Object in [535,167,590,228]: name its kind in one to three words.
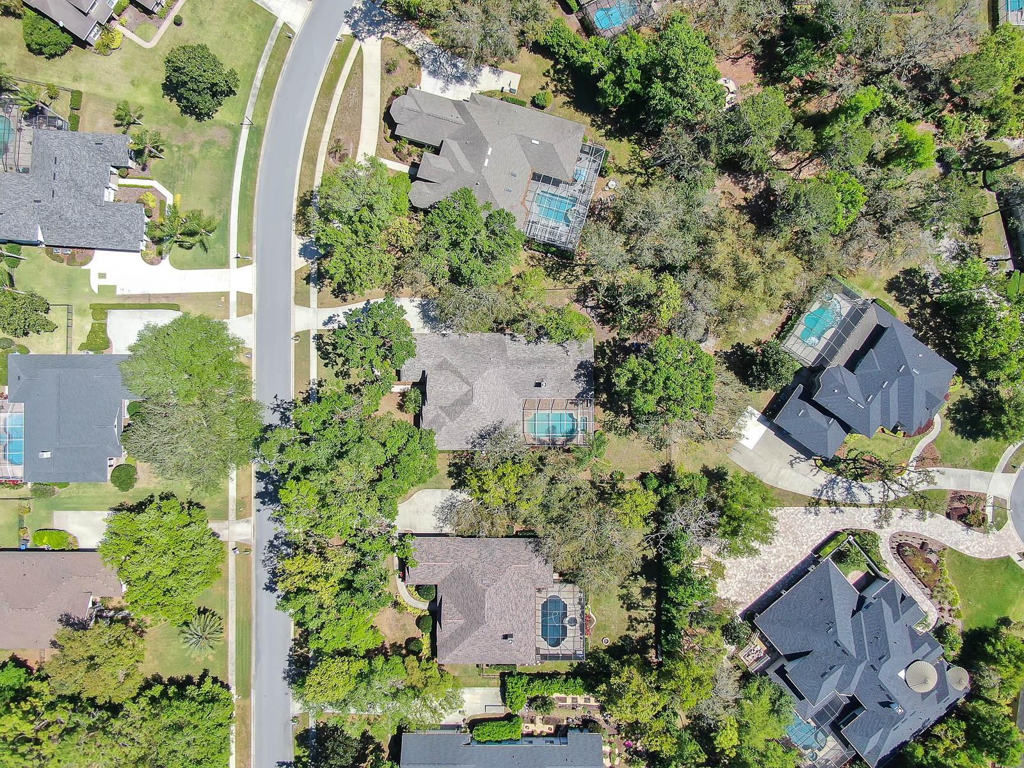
swimming pool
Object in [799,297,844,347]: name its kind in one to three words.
swimming pool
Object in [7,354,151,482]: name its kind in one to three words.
house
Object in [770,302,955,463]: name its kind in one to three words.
house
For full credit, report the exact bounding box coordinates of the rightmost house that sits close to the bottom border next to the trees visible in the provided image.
[755,557,969,768]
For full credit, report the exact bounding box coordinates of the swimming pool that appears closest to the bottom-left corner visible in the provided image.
[0,412,23,467]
